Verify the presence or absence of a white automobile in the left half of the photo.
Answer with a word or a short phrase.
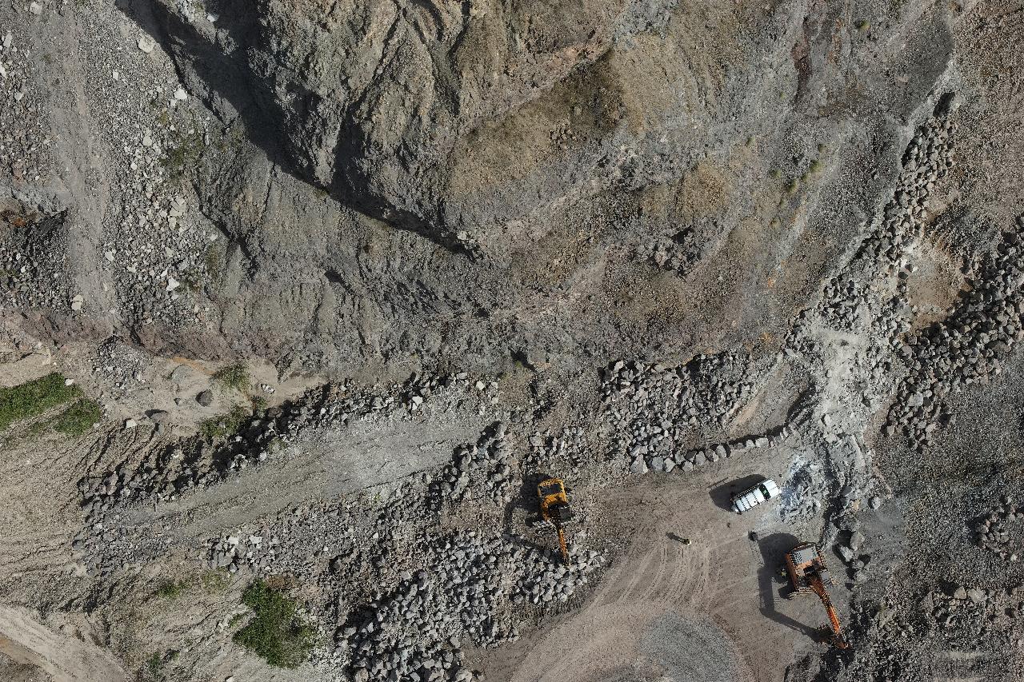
No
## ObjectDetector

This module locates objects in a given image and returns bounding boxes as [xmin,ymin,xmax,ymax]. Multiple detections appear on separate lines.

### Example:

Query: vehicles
[528,474,577,561]
[726,475,781,514]
[771,538,839,642]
